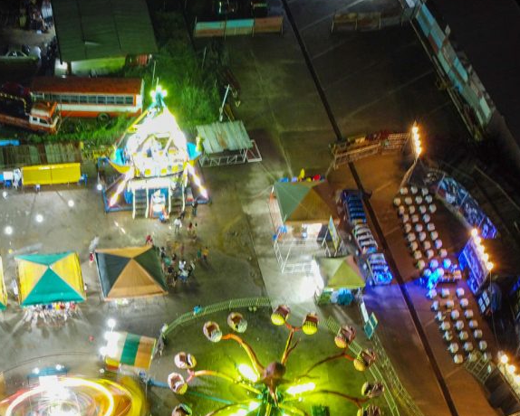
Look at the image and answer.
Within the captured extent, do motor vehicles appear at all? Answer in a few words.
Yes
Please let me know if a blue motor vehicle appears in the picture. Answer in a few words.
No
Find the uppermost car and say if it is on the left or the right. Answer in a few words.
left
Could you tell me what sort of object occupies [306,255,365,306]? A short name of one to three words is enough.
tent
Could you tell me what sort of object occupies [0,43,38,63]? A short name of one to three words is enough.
car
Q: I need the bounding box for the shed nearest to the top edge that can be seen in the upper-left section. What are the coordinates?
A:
[54,0,157,79]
